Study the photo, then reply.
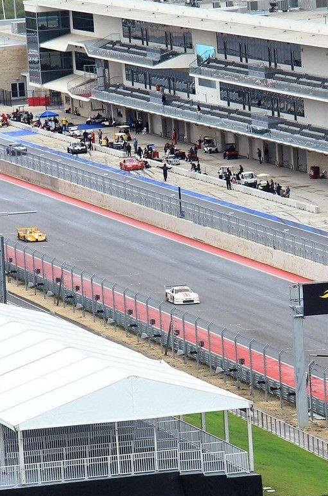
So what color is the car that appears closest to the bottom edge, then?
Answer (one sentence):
In this view, the car that appears closest to the bottom edge is white.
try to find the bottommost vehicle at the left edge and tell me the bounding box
[16,225,47,241]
